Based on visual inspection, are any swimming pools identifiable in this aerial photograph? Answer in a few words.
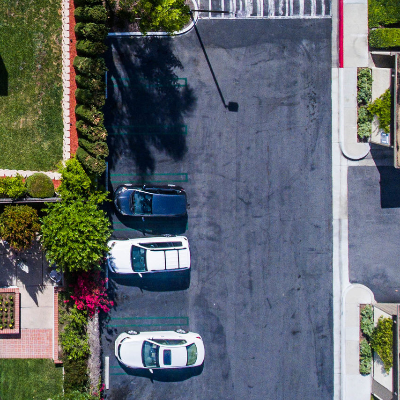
No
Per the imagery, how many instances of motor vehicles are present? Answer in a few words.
3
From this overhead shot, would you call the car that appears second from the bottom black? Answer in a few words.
No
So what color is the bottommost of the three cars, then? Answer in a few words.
white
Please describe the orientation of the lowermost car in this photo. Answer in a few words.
from side to side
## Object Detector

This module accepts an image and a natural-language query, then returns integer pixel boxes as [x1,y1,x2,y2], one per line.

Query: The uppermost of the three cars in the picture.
[110,184,189,225]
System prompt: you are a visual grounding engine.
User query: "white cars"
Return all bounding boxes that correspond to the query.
[112,329,205,377]
[104,235,193,280]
